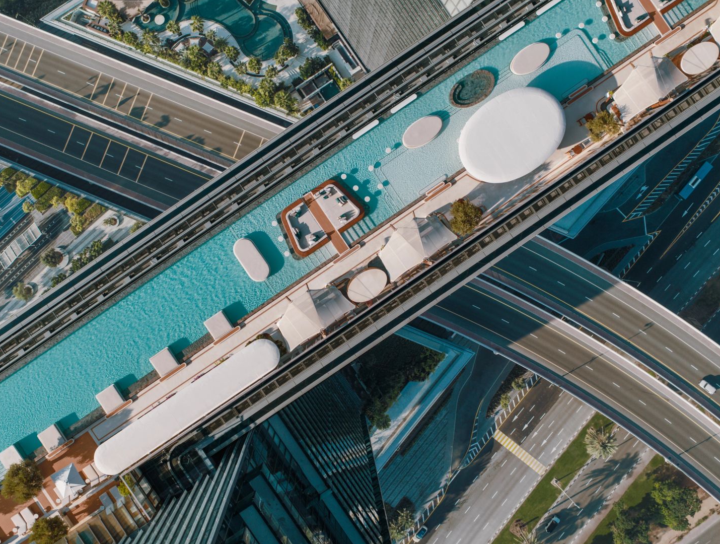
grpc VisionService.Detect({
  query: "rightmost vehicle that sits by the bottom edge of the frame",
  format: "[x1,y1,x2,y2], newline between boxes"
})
[546,515,559,533]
